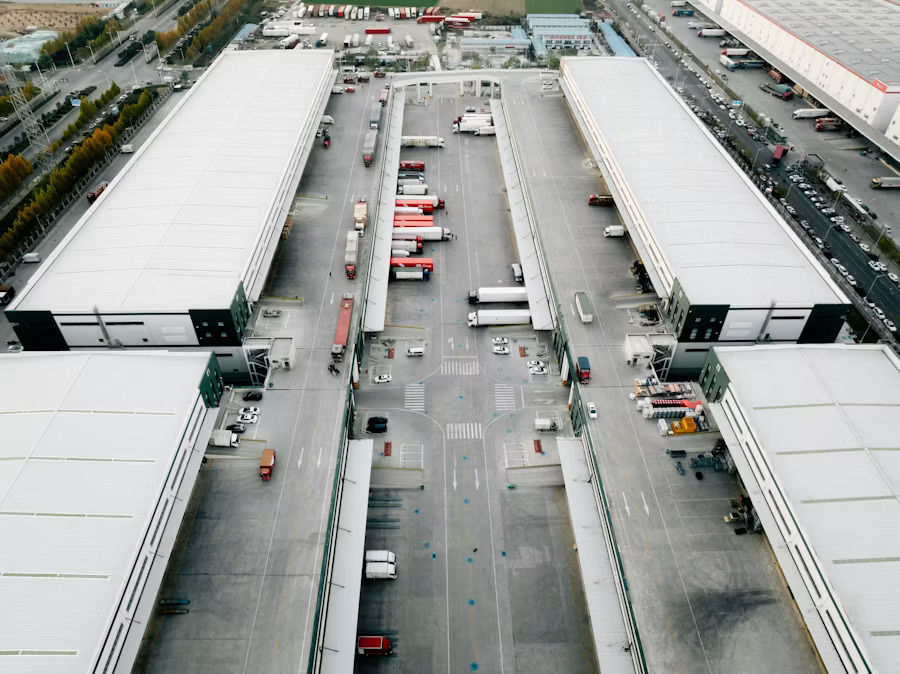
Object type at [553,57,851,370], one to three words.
warehouse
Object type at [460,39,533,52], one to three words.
building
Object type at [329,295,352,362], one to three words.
truck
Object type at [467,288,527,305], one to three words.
vehicle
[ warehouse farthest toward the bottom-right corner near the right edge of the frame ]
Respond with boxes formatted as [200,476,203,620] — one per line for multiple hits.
[699,344,900,674]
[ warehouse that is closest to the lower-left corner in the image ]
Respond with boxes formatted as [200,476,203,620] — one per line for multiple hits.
[0,350,223,674]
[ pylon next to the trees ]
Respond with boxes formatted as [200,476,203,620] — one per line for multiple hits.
[0,36,56,175]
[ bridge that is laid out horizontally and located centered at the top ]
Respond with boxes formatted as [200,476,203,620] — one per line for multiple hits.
[339,69,552,101]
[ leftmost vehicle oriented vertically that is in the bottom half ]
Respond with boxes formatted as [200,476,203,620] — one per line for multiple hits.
[258,446,278,479]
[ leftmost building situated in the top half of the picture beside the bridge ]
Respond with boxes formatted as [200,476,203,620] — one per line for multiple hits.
[4,51,343,375]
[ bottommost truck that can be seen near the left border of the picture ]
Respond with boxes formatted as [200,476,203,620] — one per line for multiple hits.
[0,282,23,307]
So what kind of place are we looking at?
industrial area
